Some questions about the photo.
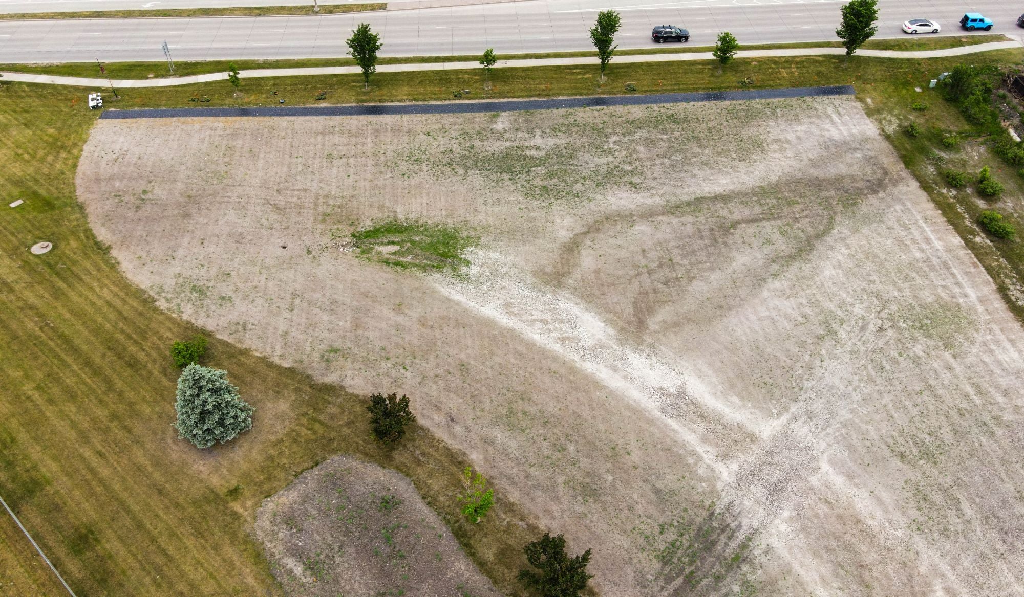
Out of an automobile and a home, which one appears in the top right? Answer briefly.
automobile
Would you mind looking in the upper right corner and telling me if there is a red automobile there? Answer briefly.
No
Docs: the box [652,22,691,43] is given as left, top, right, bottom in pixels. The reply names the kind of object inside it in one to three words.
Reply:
car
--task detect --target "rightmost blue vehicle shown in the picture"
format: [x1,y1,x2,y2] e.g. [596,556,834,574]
[961,13,996,31]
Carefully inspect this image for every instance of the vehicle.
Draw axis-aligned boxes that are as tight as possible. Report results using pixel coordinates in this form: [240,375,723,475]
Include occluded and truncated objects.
[903,18,942,34]
[961,13,996,31]
[652,22,691,43]
[1016,13,1024,28]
